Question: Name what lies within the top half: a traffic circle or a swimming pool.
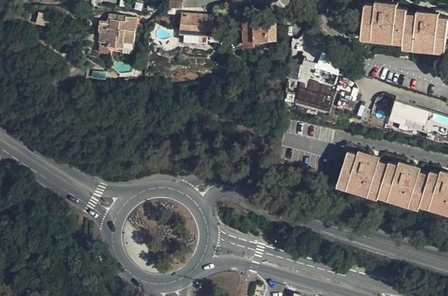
swimming pool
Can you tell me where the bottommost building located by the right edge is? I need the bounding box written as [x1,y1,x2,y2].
[336,150,448,218]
